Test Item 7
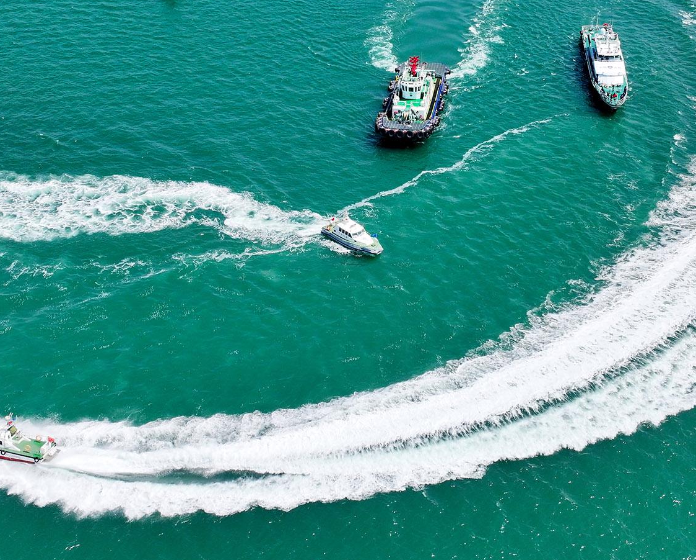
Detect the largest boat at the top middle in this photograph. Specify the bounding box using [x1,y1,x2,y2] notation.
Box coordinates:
[375,56,451,145]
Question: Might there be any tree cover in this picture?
No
